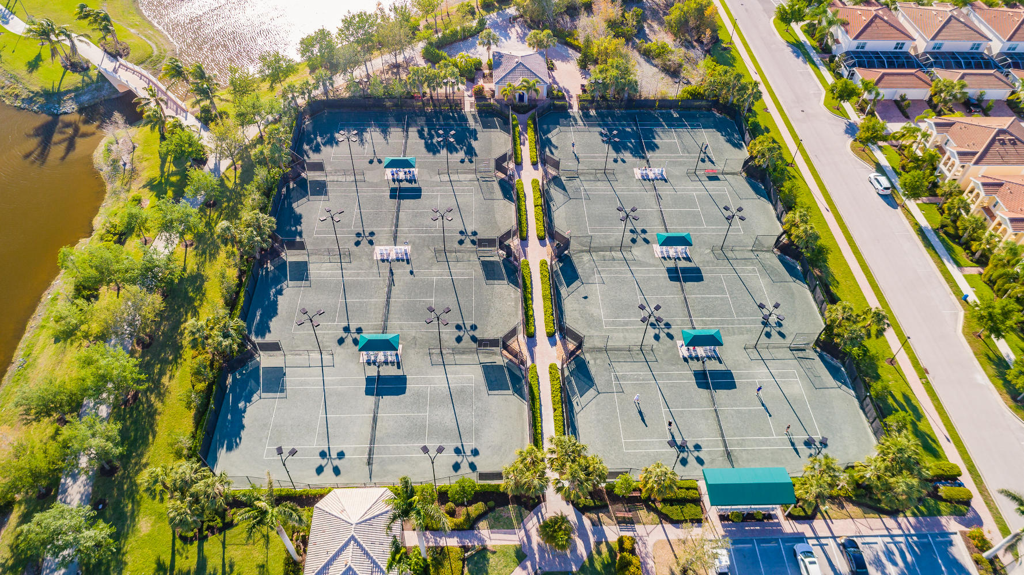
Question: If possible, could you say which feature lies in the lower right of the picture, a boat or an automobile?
automobile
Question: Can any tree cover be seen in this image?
Yes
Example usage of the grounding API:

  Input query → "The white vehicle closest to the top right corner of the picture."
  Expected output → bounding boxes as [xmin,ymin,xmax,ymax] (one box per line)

[870,174,892,194]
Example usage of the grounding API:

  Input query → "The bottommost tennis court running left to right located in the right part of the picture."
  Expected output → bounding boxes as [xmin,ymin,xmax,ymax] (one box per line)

[562,347,879,481]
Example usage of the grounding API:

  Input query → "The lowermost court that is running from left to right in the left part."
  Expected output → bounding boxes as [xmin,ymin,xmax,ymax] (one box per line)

[207,352,530,489]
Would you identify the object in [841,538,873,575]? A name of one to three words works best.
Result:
car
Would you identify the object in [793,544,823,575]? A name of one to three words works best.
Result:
car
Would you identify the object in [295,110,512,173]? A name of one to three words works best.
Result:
tennis court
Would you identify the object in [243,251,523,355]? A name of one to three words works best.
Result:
tennis court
